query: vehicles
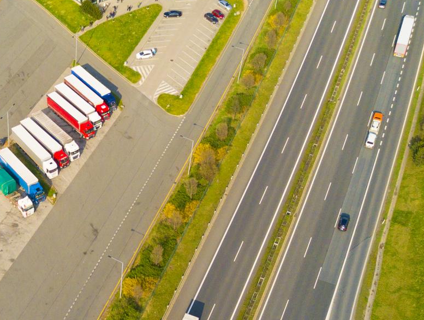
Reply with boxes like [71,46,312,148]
[0,163,35,215]
[394,15,414,55]
[136,48,156,59]
[182,314,198,320]
[12,126,60,180]
[365,132,377,146]
[47,92,96,142]
[217,0,232,11]
[205,13,218,23]
[20,118,70,172]
[379,0,387,7]
[164,10,182,17]
[64,76,112,124]
[373,115,384,128]
[0,148,46,205]
[338,213,350,230]
[71,66,118,113]
[211,9,225,19]
[54,83,103,131]
[32,111,81,162]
